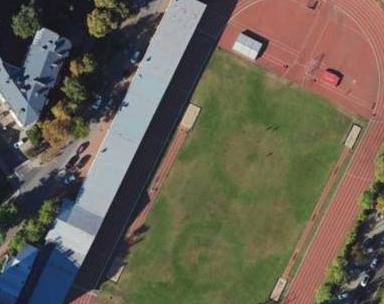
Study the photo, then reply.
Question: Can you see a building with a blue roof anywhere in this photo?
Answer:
Yes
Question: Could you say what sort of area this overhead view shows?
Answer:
sports ground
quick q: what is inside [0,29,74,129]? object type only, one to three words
house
